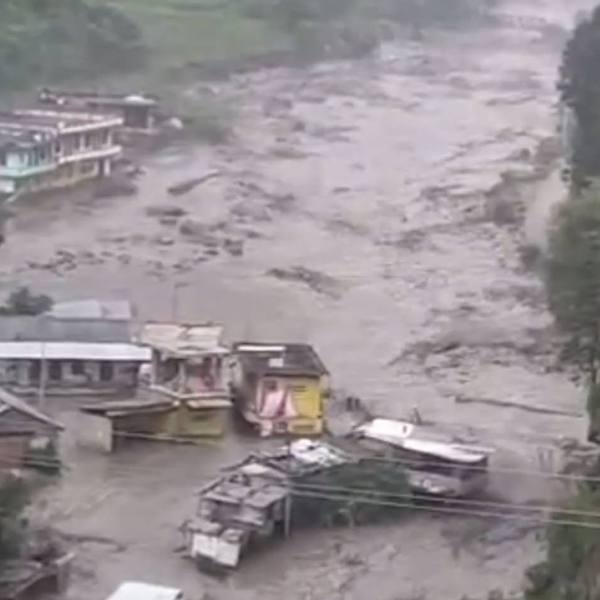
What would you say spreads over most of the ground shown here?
water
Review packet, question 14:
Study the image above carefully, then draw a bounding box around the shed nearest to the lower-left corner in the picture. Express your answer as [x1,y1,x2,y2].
[0,543,74,600]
